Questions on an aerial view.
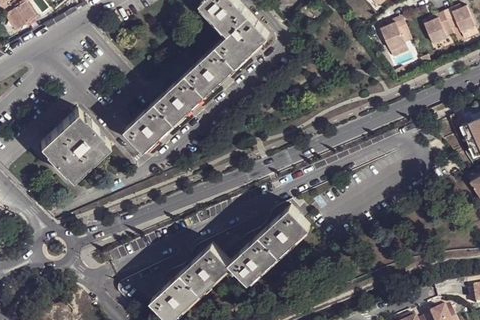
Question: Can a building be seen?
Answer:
Yes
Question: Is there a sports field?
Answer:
No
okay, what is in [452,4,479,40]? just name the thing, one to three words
house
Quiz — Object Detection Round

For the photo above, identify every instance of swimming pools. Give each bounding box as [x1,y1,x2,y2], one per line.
[394,52,414,64]
[32,0,49,12]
